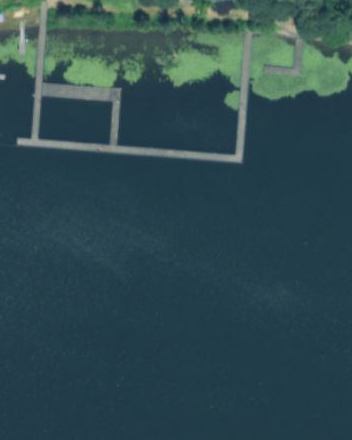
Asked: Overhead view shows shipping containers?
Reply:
No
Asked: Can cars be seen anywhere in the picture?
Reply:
No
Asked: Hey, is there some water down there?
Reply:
Yes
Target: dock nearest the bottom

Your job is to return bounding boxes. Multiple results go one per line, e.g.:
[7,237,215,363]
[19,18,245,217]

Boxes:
[16,138,242,162]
